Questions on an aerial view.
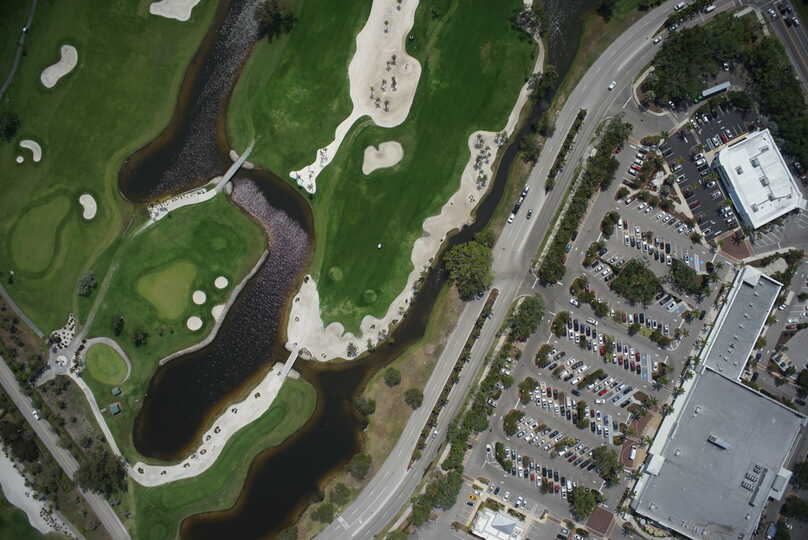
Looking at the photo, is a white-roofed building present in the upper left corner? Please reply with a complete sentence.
No, I see no white-roofed building in the upper left corner.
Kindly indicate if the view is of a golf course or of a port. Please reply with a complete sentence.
This image shows a golf course.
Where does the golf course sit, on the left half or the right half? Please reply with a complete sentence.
The golf course sits on the left side.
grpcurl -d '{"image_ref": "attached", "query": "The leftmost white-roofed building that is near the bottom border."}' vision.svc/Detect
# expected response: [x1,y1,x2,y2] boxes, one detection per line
[466,503,526,540]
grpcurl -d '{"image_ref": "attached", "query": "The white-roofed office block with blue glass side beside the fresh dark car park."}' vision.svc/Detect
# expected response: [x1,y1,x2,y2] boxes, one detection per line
[709,129,807,230]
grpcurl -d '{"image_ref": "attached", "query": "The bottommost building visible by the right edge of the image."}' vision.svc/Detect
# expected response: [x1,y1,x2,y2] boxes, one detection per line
[630,365,806,540]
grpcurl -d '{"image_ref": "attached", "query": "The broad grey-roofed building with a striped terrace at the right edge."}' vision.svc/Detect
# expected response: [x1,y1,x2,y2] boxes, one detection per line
[770,325,808,371]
